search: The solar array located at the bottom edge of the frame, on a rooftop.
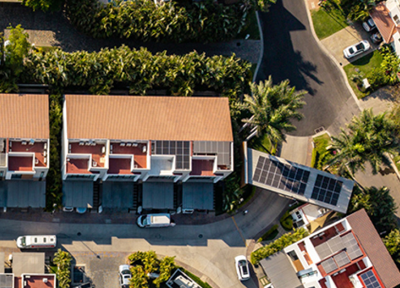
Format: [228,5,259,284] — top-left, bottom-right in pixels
[360,270,381,288]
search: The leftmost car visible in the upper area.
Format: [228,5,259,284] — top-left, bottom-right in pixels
[343,40,369,59]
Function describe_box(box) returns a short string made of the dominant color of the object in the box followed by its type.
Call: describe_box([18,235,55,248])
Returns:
white vehicle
